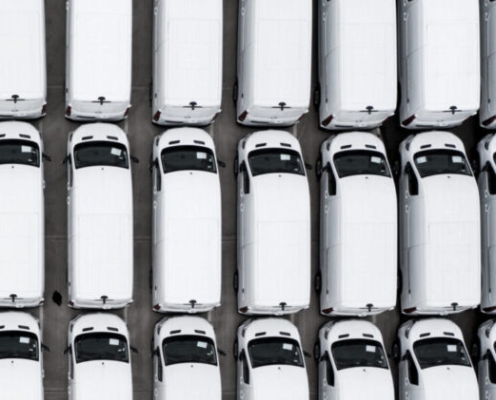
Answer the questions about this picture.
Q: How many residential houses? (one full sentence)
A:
The count of residential houses is 0.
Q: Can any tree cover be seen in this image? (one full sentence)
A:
No, the scene doesn't show any tree cover.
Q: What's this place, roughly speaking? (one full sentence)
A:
The picture captures a parking lot.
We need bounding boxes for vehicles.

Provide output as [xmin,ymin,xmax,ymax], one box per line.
[149,0,221,128]
[0,311,50,400]
[393,0,478,131]
[233,0,310,128]
[233,130,313,316]
[62,312,139,400]
[392,130,479,318]
[313,319,395,400]
[233,316,312,400]
[471,0,496,130]
[61,123,139,310]
[314,131,398,318]
[0,121,51,309]
[150,315,226,400]
[0,0,47,121]
[313,0,395,131]
[65,0,132,124]
[469,133,496,316]
[392,318,477,400]
[148,127,226,314]
[469,318,496,400]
